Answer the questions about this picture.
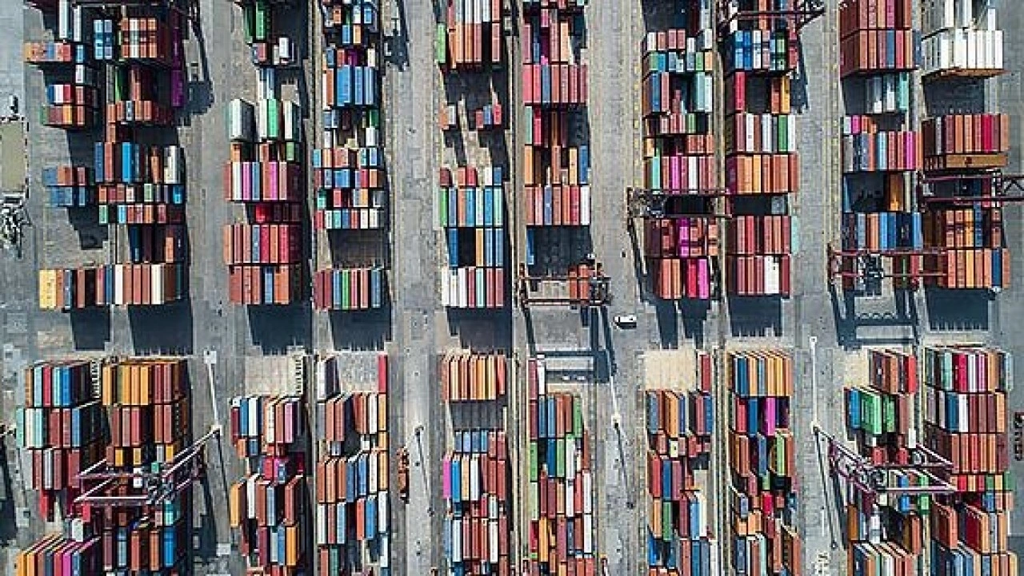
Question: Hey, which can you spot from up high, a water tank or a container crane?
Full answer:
The image shows a container crane.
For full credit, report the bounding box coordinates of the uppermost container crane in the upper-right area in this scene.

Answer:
[716,0,829,40]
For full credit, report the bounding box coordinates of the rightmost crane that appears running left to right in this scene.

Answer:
[917,174,1024,210]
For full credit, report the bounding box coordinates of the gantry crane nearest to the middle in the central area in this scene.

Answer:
[518,267,614,310]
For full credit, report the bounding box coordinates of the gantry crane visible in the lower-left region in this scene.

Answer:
[70,446,201,508]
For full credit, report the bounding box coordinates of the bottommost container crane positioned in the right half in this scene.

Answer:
[827,438,957,496]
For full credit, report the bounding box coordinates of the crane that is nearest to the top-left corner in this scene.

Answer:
[69,0,199,32]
